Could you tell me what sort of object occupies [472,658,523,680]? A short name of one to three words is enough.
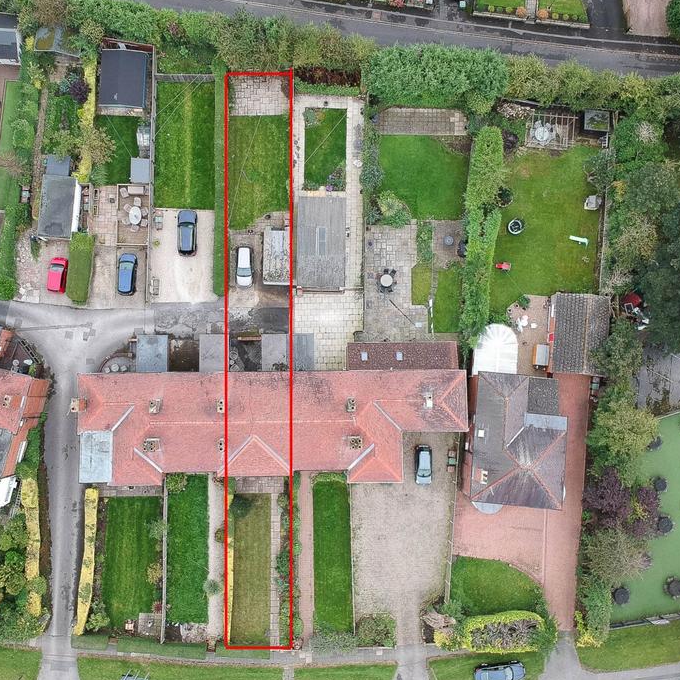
car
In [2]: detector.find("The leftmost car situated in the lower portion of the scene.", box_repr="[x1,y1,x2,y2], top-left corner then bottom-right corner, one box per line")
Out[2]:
[412,442,434,484]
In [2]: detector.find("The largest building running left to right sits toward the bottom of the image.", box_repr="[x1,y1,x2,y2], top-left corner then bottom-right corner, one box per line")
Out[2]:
[68,368,468,485]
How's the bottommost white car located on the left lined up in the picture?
vertically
